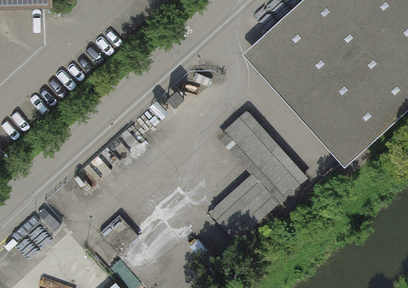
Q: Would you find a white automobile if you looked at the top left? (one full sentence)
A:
Yes, a white automobile is visible at the top left.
